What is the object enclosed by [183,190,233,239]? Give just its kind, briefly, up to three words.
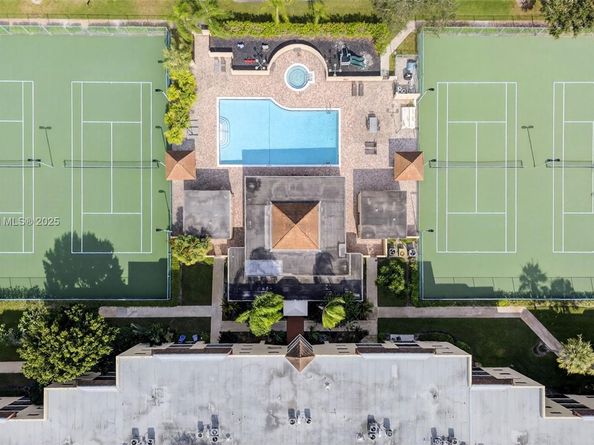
building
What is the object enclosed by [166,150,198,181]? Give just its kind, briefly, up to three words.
gazebo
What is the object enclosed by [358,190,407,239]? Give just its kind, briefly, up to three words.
building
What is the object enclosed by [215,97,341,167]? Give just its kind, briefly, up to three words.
swimming pool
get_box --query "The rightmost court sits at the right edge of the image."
[533,35,594,298]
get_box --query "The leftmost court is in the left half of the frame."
[0,35,55,298]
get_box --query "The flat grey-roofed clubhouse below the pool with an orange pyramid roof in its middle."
[228,176,363,316]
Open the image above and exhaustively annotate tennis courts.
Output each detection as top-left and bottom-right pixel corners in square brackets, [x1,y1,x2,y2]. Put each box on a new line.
[418,35,538,298]
[0,35,55,298]
[533,35,594,298]
[50,35,172,298]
